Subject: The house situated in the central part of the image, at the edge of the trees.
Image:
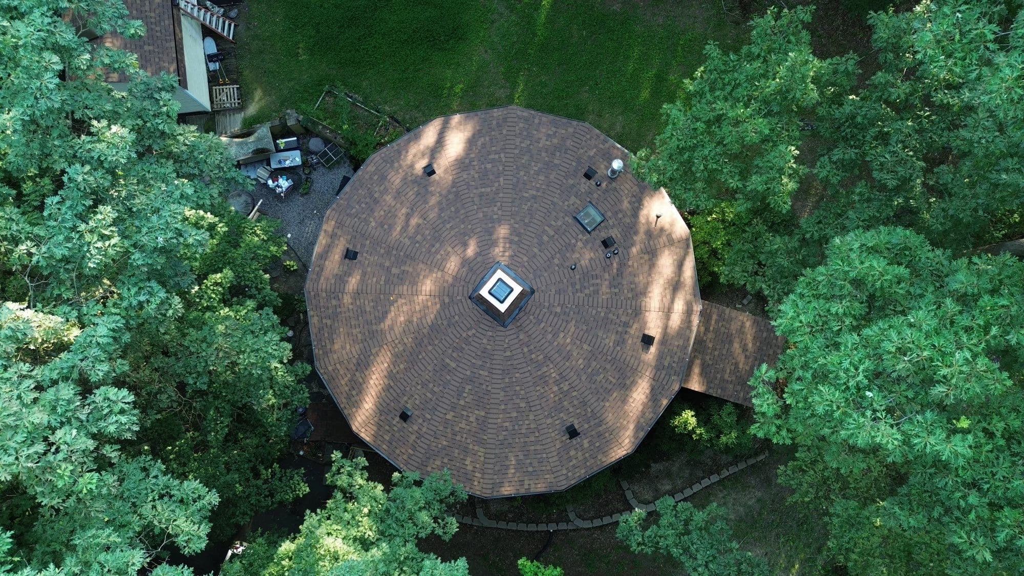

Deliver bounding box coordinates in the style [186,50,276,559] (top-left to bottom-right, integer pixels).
[302,104,785,501]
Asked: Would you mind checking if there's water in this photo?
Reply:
No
